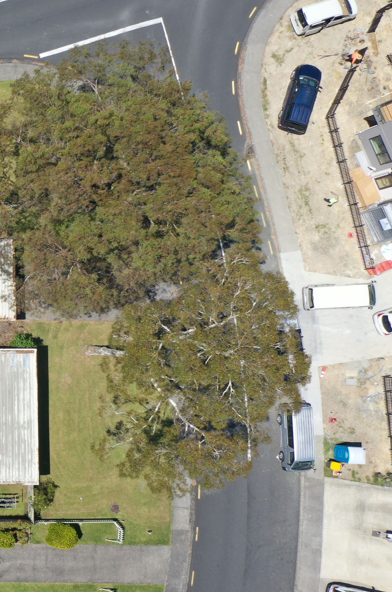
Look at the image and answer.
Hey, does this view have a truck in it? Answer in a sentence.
Yes, a truck is visible in the scene.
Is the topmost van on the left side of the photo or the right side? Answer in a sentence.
The topmost van appears in the right half of the scene.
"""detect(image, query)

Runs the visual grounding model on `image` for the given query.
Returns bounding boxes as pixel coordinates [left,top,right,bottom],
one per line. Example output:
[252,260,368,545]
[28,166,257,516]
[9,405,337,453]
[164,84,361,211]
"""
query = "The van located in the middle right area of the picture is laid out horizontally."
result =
[304,279,379,310]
